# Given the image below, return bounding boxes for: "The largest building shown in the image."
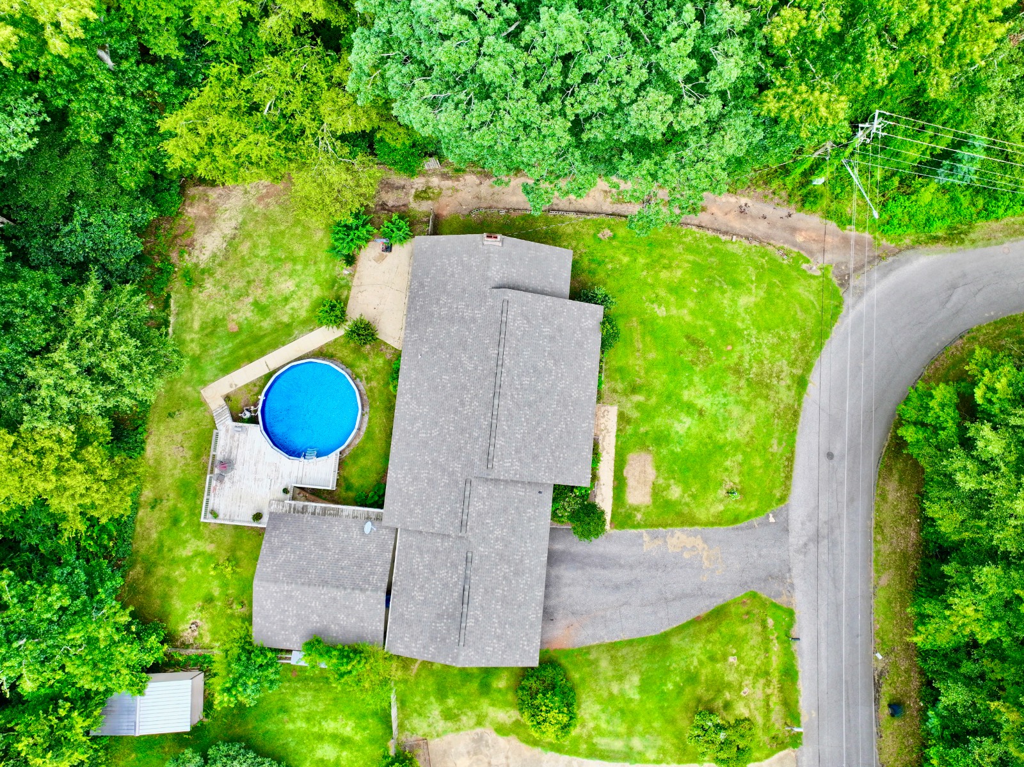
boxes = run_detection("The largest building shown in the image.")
[383,233,604,667]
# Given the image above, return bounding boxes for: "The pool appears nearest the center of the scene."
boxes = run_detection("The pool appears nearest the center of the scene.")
[258,357,366,461]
